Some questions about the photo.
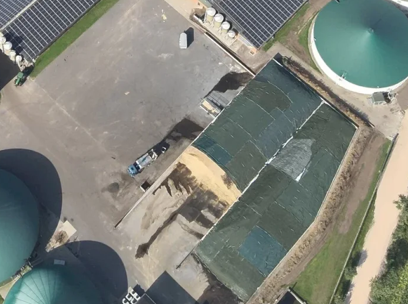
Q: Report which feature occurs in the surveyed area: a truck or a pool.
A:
truck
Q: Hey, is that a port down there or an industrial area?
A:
industrial area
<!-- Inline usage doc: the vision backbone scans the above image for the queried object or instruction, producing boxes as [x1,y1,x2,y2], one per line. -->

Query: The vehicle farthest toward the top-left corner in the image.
[11,69,25,91]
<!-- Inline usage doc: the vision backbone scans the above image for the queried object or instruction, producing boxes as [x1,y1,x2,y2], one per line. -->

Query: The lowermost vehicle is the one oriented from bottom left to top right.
[126,145,168,180]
